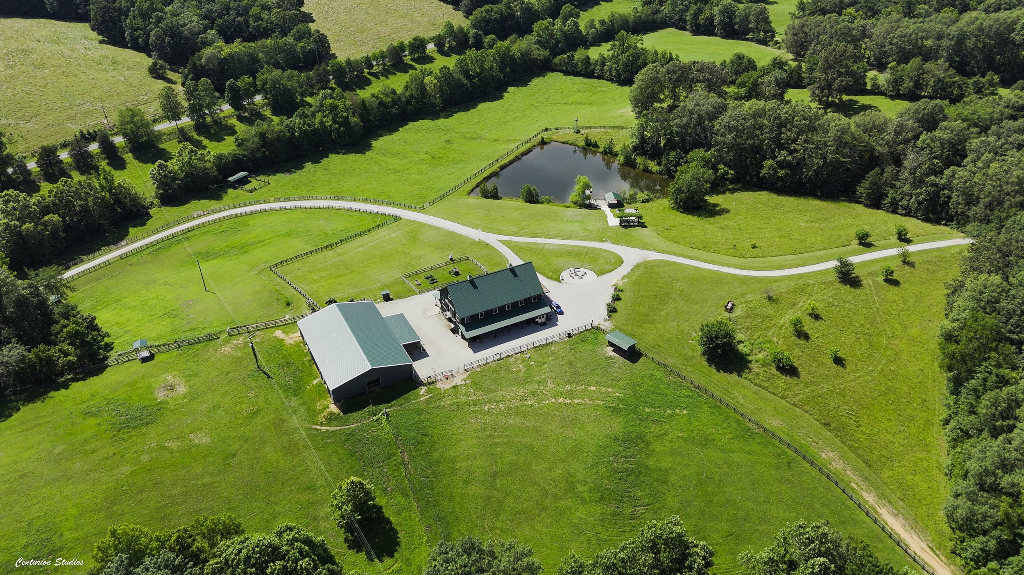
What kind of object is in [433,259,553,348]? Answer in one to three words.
house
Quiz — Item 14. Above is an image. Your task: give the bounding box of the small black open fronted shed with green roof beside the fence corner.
[606,331,639,357]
